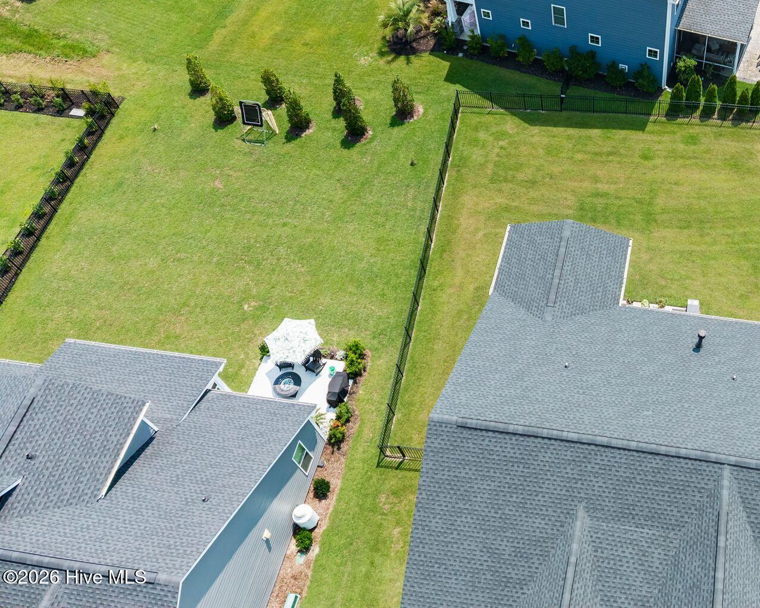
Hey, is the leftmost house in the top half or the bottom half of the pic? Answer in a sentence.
Seen from above, the leftmost house lies in the bottom half of the view.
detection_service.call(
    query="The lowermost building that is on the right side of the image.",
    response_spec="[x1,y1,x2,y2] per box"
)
[397,221,760,608]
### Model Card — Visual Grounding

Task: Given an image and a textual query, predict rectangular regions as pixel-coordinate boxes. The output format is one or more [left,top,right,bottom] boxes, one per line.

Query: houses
[438,0,758,90]
[397,221,760,608]
[0,339,326,608]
